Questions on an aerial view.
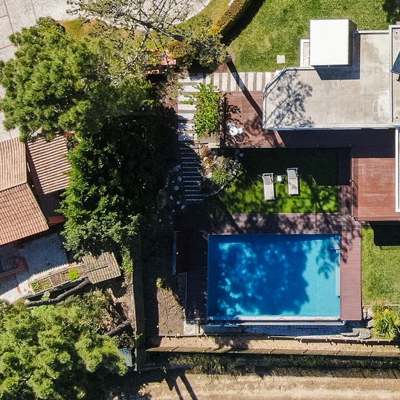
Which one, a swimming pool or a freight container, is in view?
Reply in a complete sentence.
Looking from above, you can make out a swimming pool.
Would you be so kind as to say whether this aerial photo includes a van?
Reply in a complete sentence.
No, there isn't any van down there.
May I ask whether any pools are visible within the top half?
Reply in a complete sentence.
No, no pool is visible within the top half.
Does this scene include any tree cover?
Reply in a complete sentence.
Yes, tree cover shows up in the scene.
